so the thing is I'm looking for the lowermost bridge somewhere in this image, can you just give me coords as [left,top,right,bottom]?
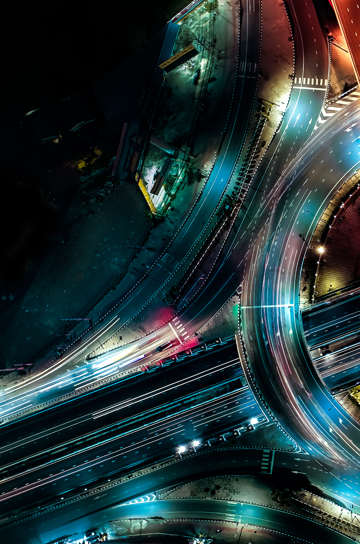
[233,309,334,436]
